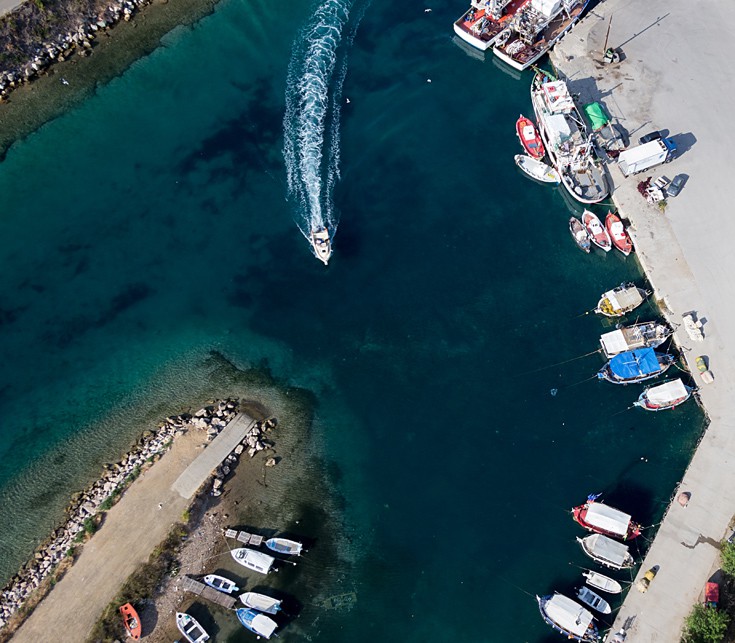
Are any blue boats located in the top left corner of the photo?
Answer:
No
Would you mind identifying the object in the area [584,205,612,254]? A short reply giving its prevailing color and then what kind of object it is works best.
white boat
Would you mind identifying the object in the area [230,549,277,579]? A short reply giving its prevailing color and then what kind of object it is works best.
white boat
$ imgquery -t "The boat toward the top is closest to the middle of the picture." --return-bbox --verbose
[306,228,328,266]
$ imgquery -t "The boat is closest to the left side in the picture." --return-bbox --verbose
[121,602,138,638]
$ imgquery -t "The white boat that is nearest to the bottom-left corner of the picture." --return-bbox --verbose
[176,611,209,643]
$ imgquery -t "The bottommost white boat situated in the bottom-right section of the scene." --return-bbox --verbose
[535,589,605,637]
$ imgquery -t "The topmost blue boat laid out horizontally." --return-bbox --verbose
[598,346,675,385]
